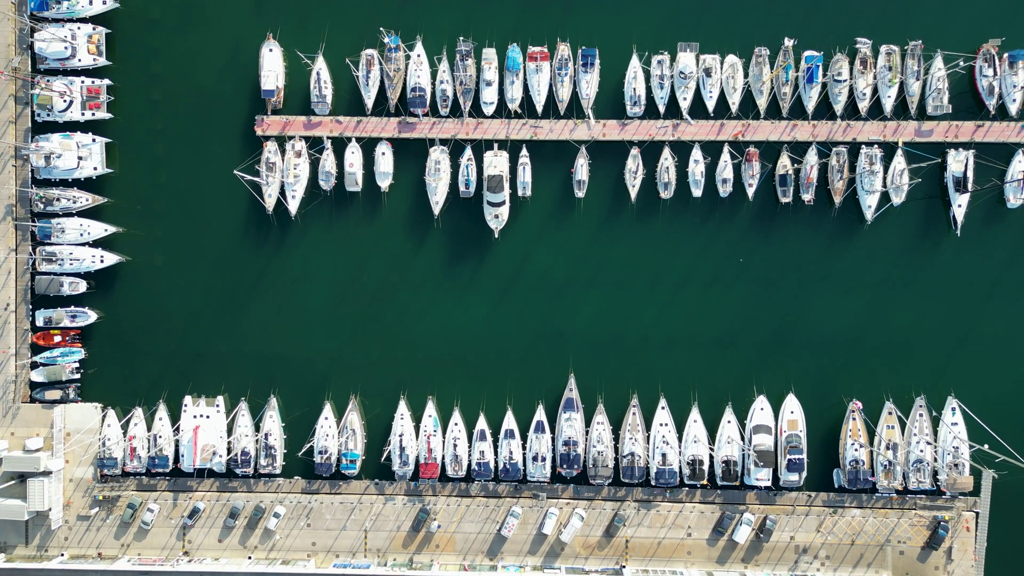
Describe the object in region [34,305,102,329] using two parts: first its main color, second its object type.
white boat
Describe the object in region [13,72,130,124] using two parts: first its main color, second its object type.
white boat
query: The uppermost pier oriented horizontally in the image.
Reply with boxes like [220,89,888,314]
[255,115,1024,144]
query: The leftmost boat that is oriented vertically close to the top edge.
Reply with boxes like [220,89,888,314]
[258,28,286,115]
